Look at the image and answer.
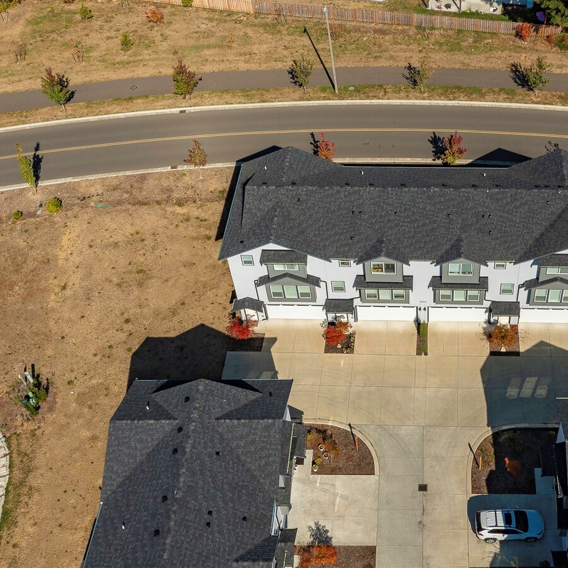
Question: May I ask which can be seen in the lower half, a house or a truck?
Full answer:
You can see a house in the lower half.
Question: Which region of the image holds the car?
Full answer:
The car appears toward the bottom right of the photo.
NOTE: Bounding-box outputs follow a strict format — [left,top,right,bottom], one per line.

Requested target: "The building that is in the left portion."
[82,375,310,568]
